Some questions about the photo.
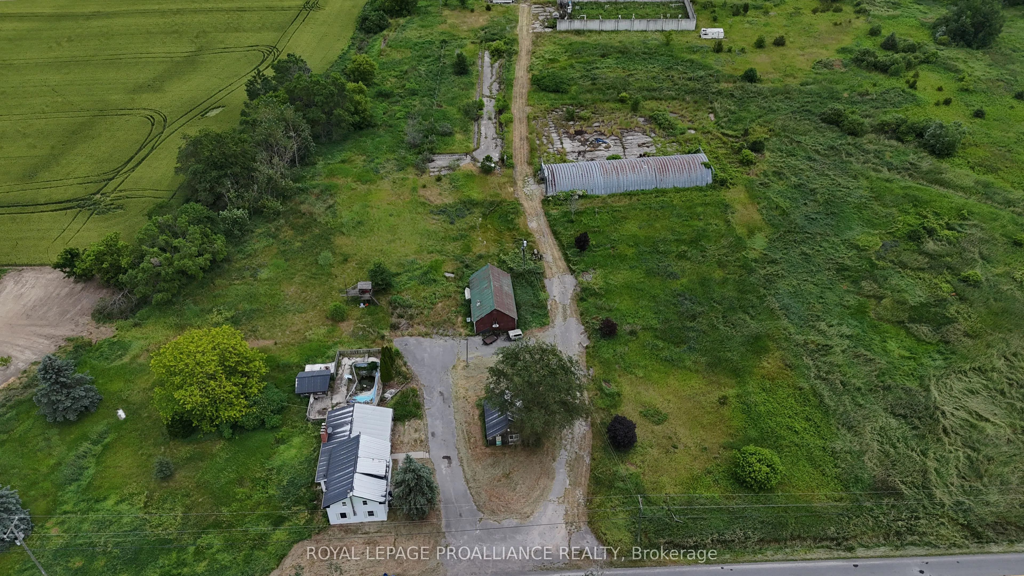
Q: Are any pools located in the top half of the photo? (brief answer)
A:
No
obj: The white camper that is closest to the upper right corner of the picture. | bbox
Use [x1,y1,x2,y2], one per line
[699,26,726,38]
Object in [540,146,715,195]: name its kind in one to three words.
shed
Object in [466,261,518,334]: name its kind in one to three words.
barn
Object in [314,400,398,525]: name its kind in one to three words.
house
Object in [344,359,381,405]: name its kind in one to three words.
swimming pool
